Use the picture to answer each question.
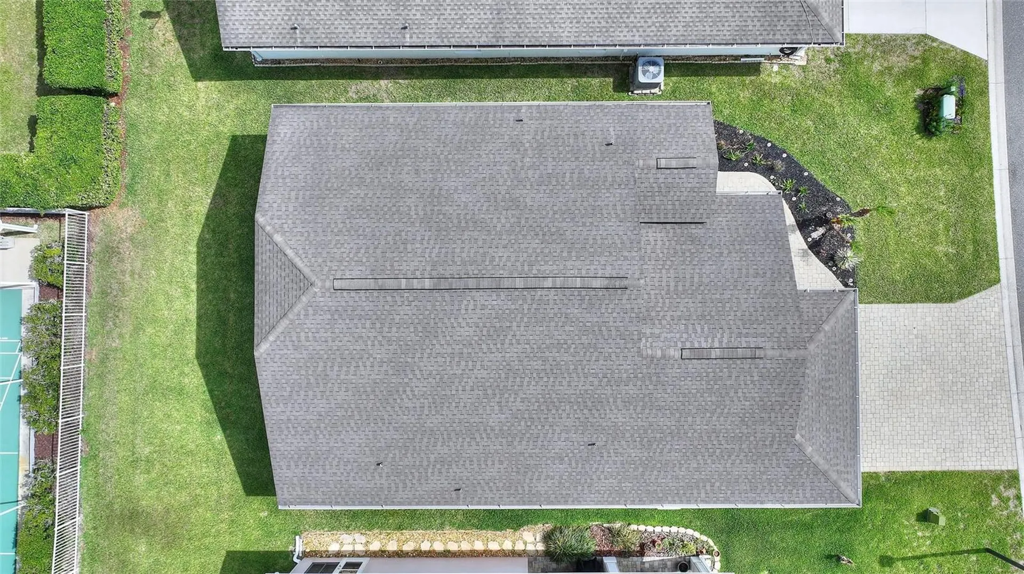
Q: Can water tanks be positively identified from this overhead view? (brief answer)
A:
No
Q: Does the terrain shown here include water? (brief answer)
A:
No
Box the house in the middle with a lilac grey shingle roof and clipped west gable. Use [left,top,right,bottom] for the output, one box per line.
[252,99,864,513]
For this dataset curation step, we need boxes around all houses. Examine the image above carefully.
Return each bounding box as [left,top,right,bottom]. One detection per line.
[252,99,864,513]
[215,0,844,64]
[266,535,734,574]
